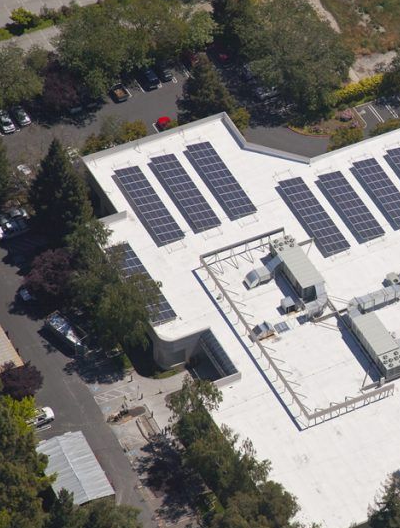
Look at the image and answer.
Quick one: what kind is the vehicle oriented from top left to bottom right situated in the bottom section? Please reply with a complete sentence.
It looks like the vehicle oriented from top left to bottom right situated in the bottom section is a truck.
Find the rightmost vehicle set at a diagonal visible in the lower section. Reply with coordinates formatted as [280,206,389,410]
[42,302,90,356]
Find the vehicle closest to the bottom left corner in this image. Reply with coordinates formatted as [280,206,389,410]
[14,410,55,433]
